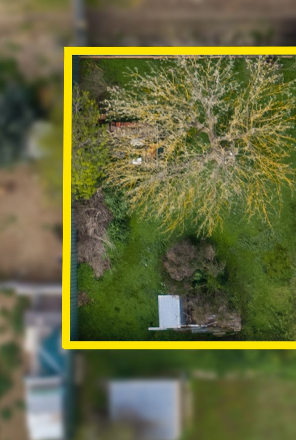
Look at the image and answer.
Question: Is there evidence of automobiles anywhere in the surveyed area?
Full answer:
No, there's no automobile here.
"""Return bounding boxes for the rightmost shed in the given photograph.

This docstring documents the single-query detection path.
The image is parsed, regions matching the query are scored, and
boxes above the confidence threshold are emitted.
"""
[158,296,187,329]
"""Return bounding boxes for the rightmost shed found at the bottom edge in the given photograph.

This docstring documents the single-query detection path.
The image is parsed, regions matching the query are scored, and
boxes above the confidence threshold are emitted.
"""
[109,378,187,440]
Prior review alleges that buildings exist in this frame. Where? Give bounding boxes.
[109,378,187,440]
[158,296,187,329]
[25,378,67,440]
